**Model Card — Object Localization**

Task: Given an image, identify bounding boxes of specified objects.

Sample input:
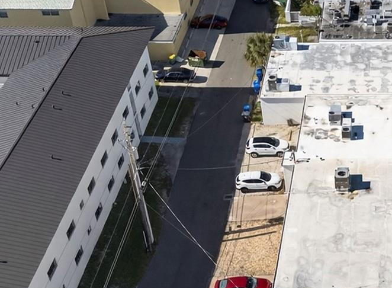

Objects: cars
[188,13,231,31]
[154,66,200,85]
[242,134,294,158]
[212,273,275,288]
[231,167,277,194]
